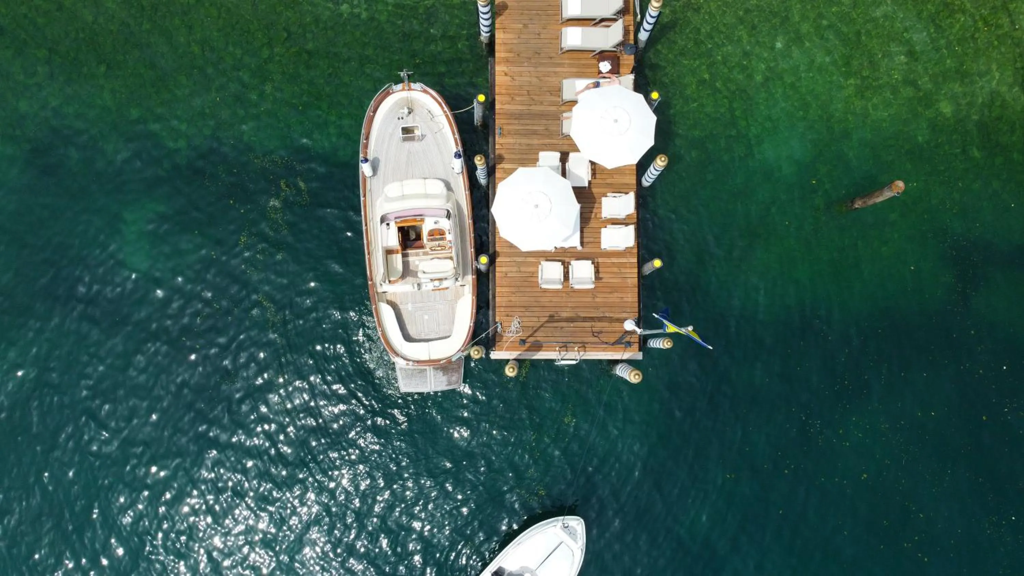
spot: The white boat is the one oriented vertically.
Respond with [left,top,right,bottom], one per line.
[360,68,478,392]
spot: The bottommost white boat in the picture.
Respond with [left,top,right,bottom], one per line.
[478,515,586,576]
